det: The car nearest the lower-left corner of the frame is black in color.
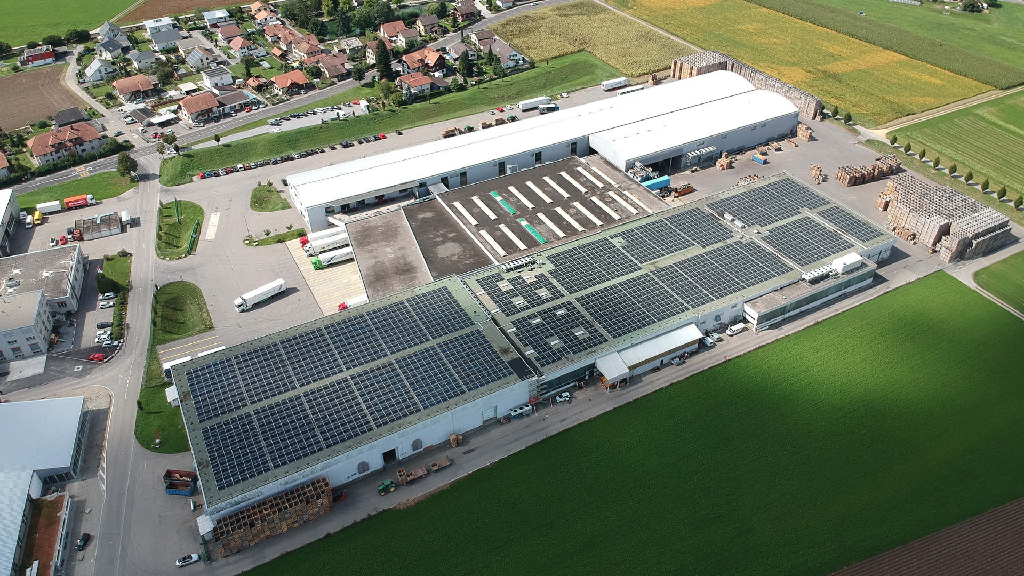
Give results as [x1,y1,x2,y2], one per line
[73,534,91,554]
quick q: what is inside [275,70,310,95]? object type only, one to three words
house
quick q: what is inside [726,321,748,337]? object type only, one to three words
vehicle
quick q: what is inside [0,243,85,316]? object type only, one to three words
building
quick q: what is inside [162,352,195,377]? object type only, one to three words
truck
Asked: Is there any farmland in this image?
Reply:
Yes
